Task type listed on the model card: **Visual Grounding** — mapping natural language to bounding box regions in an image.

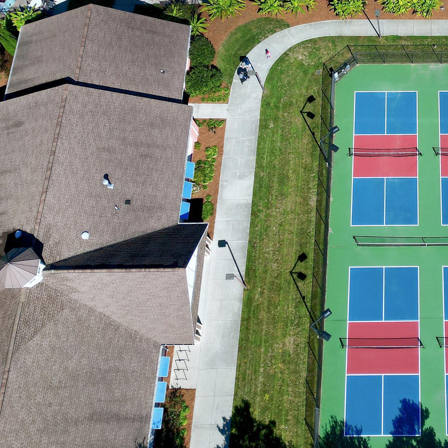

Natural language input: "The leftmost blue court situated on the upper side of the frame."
[351,91,418,226]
